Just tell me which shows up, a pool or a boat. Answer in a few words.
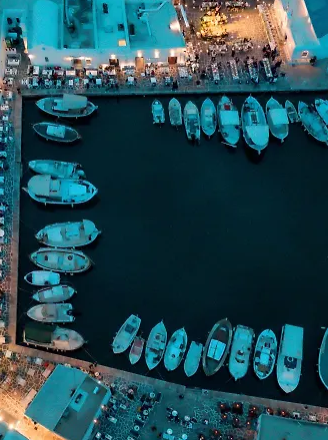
boat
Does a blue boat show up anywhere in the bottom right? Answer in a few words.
Yes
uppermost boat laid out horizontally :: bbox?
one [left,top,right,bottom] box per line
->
[20,94,98,119]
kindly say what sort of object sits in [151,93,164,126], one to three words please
boat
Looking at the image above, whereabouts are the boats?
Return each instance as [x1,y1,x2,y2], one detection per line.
[18,286,77,304]
[200,96,216,138]
[20,304,73,325]
[180,340,202,387]
[226,324,255,387]
[151,93,164,126]
[19,158,83,179]
[215,92,241,148]
[264,93,289,141]
[197,318,234,390]
[277,90,299,125]
[20,120,81,142]
[18,220,101,250]
[290,90,328,146]
[144,321,167,376]
[122,333,145,376]
[180,92,201,143]
[111,314,141,371]
[20,94,98,119]
[28,248,95,276]
[251,329,276,400]
[306,90,328,128]
[315,327,328,407]
[20,175,98,207]
[22,325,96,363]
[167,93,182,129]
[18,270,60,287]
[275,324,304,403]
[163,327,189,372]
[240,93,269,153]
